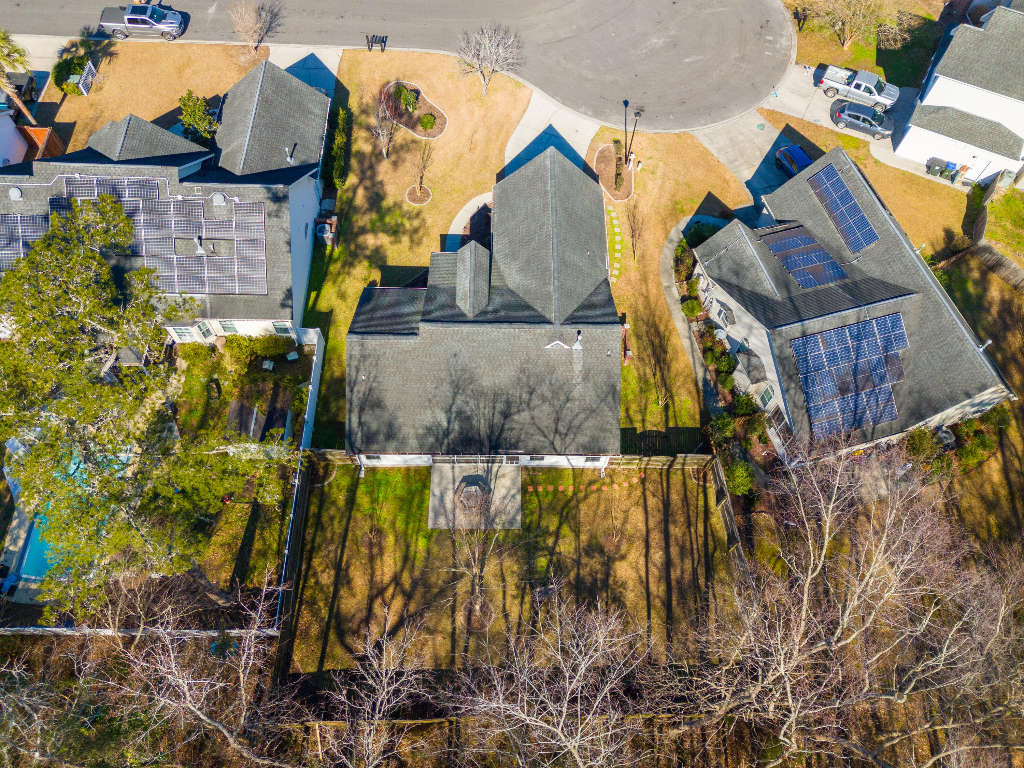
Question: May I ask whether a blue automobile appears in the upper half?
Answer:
Yes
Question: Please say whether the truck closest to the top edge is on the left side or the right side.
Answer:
left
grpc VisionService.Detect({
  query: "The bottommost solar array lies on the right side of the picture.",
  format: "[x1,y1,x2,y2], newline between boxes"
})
[790,311,912,443]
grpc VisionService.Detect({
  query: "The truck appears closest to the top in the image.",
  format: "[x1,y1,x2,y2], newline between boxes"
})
[98,0,190,40]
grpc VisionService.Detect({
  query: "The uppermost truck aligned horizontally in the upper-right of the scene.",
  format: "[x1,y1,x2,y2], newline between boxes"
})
[815,59,909,111]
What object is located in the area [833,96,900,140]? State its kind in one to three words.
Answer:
car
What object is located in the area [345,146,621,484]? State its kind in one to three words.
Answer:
house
